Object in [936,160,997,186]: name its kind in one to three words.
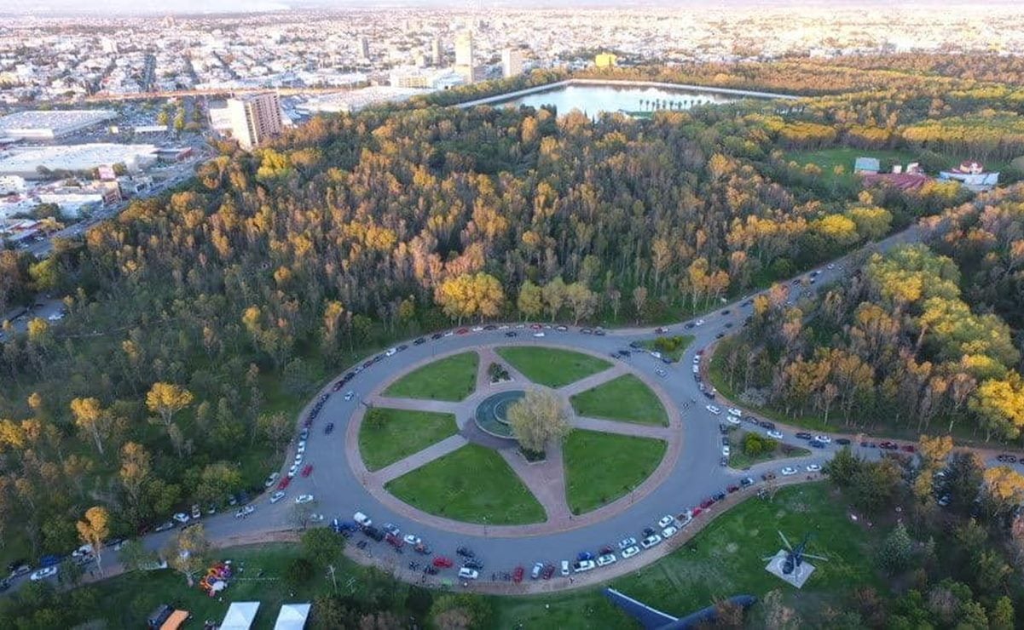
building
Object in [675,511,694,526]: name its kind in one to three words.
vehicle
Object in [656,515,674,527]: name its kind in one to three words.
vehicle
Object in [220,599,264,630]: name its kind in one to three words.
tent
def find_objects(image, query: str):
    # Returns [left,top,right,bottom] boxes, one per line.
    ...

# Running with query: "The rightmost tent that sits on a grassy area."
[274,600,312,630]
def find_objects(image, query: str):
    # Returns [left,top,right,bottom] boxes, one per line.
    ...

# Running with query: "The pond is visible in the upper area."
[441,77,798,118]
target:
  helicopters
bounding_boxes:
[763,524,829,580]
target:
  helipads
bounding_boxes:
[767,548,816,588]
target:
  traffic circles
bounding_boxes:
[246,315,810,582]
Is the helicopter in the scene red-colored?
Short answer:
No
